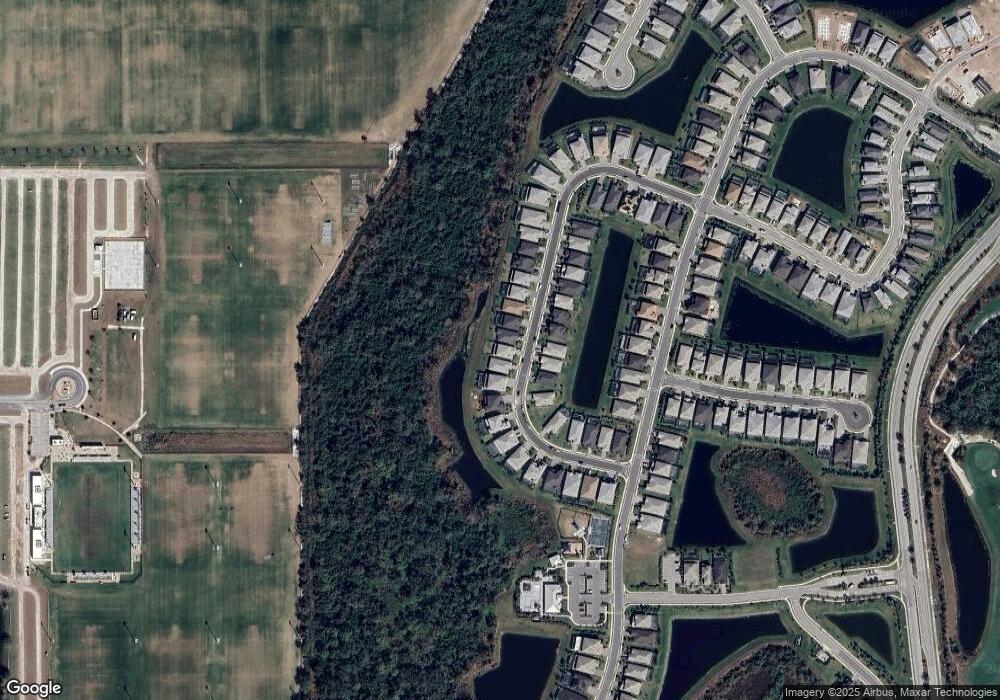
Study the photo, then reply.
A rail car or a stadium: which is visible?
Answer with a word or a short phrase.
stadium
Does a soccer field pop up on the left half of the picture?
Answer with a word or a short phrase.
Yes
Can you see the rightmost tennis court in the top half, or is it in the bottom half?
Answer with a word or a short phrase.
bottom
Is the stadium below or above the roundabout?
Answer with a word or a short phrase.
below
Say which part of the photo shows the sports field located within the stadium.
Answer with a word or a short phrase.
bottom left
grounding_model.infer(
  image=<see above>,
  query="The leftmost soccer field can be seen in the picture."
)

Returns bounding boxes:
[0,30,53,131]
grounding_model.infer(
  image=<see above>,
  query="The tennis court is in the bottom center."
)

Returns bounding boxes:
[588,516,610,548]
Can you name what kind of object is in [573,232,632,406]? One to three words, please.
pond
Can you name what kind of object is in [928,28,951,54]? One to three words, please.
house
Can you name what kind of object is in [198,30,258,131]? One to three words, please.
soccer field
